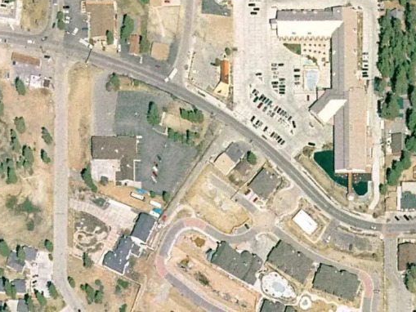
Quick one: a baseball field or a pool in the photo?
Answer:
pool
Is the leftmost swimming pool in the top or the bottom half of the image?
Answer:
bottom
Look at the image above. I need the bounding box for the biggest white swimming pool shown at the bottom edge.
[262,271,296,299]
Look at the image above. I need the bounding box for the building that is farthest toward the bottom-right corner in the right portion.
[398,243,416,272]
